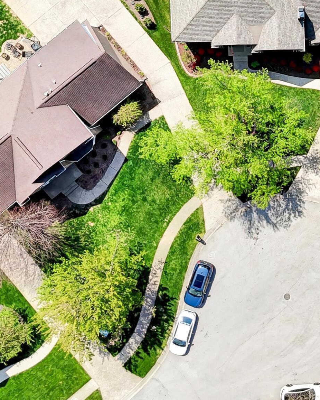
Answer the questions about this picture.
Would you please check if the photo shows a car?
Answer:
Yes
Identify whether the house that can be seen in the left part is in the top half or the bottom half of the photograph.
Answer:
top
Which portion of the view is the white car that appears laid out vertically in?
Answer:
bottom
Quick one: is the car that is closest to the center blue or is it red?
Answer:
blue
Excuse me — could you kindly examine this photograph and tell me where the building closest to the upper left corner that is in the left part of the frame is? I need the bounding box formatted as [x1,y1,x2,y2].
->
[0,19,144,213]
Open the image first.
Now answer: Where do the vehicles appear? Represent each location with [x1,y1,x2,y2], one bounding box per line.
[184,261,213,311]
[281,384,320,400]
[169,309,197,358]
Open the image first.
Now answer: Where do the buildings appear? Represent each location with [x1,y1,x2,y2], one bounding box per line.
[170,0,320,59]
[0,19,144,213]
